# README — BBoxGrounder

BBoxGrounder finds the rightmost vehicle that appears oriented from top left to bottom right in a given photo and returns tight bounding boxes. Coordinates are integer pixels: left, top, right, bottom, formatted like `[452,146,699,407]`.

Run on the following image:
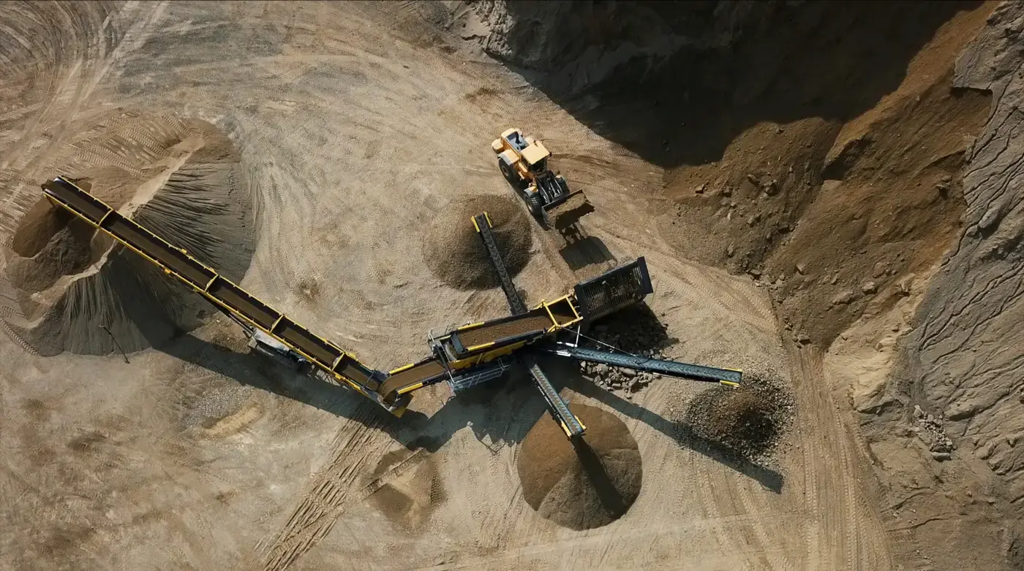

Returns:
[492,125,590,235]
